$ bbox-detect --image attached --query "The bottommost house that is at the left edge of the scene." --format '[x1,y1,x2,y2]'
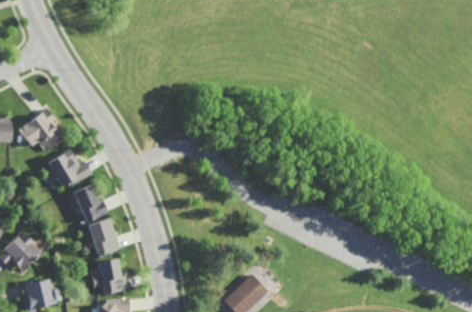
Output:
[16,277,56,312]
